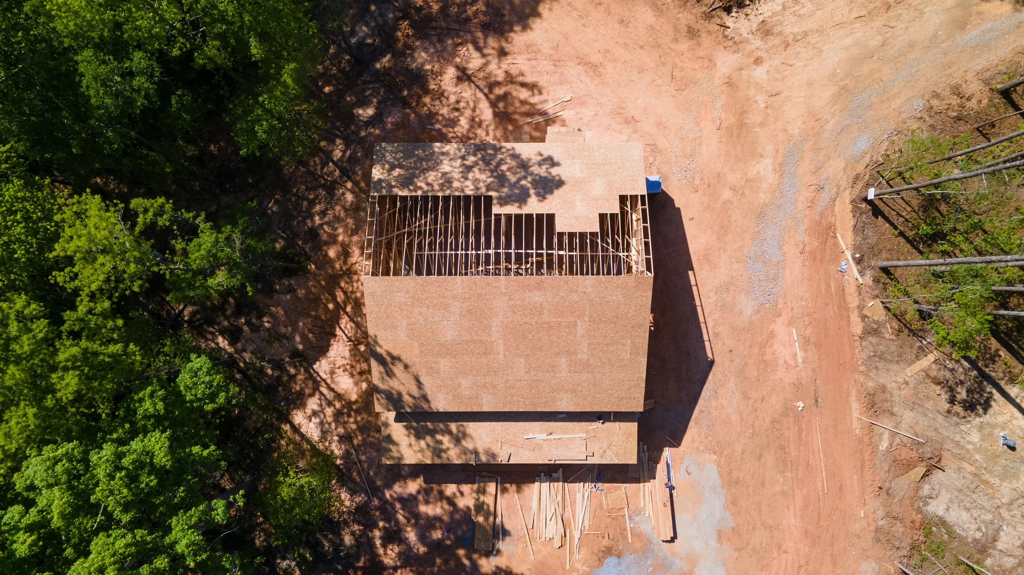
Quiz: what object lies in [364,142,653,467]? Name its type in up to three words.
house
